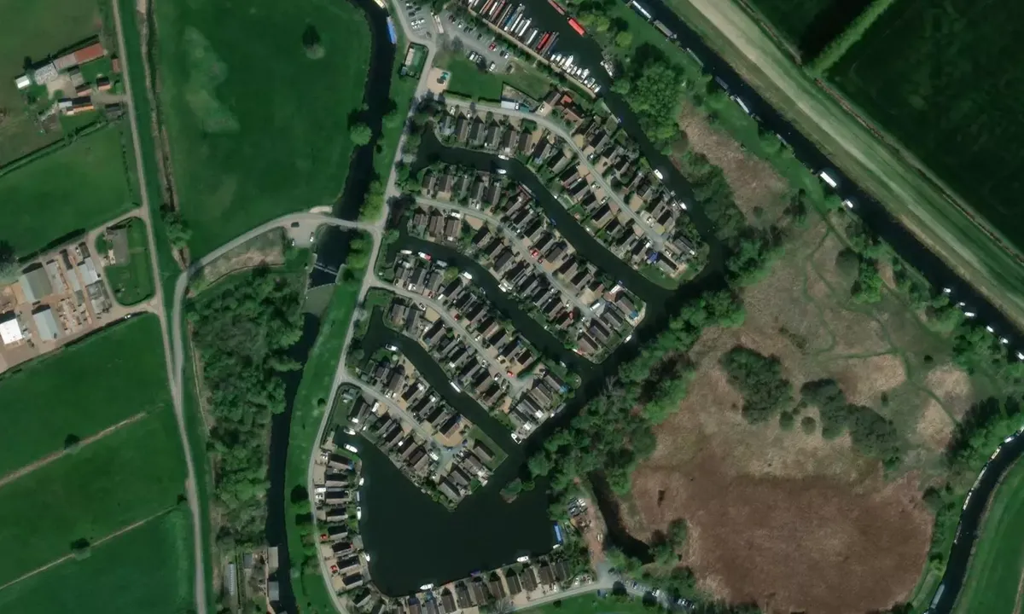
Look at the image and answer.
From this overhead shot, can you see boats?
Yes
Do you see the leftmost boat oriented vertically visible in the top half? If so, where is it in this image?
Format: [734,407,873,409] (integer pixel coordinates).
[385,17,397,43]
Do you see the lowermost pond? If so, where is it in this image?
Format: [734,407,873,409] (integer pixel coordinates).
[588,471,654,565]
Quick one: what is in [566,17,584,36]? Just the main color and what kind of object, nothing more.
red boat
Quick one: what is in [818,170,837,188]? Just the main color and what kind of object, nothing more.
white boat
